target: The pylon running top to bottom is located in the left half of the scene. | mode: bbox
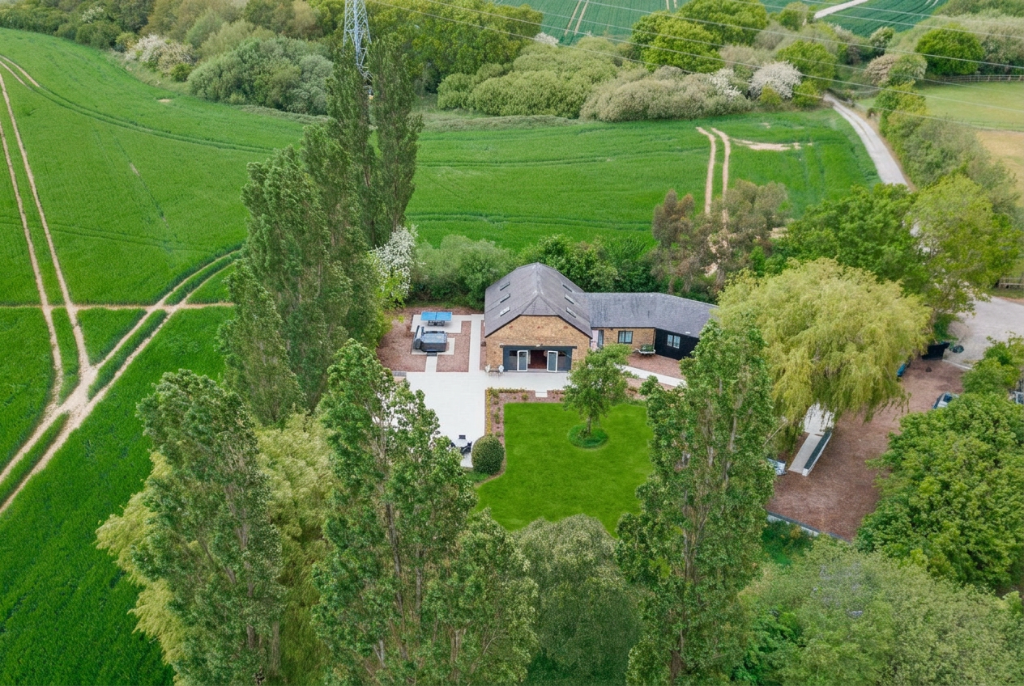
[342,0,373,86]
